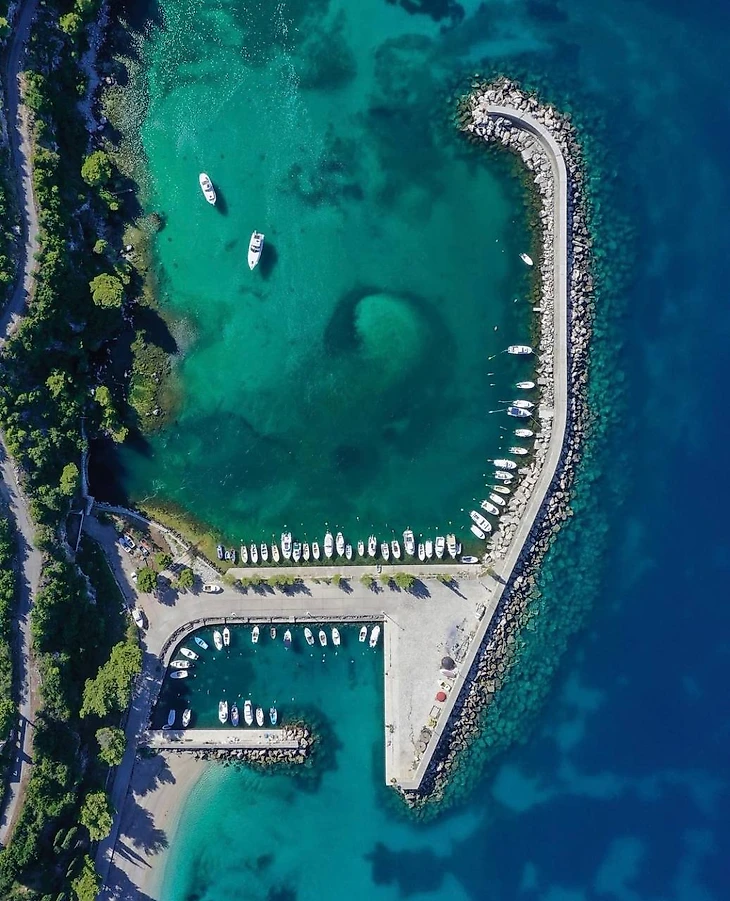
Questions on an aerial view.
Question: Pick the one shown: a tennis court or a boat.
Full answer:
I can see a boat in this picture.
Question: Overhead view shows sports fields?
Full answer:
No, the photo shows no sports field.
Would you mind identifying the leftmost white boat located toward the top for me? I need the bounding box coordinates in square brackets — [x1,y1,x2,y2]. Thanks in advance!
[197,170,215,203]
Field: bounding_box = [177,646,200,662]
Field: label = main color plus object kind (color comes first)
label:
white boat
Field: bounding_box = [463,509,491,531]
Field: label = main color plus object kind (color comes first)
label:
white boat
